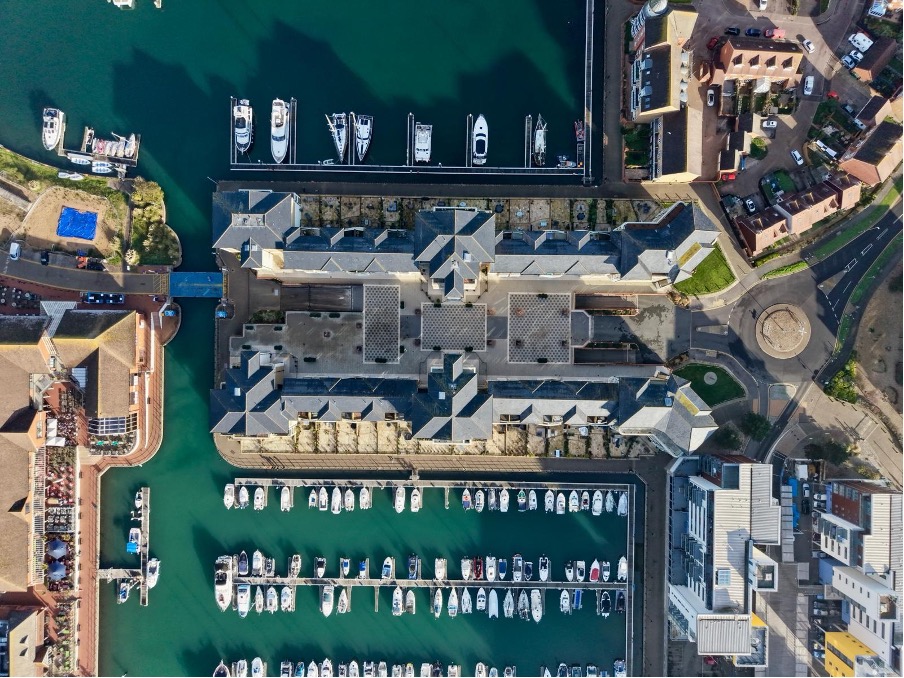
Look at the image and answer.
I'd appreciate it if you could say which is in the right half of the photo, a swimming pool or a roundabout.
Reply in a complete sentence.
What appears in the right half of the photo is a roundabout.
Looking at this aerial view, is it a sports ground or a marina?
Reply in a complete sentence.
It's a marina.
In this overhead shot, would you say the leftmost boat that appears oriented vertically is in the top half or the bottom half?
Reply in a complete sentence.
You can find the leftmost boat that appears oriented vertically in the top half.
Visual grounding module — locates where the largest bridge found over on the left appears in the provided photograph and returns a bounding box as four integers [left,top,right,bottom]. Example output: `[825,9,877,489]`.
[168,272,225,297]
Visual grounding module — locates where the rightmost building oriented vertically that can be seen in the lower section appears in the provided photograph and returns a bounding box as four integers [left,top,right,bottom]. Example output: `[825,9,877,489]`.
[817,477,904,678]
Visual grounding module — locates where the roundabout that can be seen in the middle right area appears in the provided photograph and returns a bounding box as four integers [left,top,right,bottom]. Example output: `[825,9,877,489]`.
[755,303,811,358]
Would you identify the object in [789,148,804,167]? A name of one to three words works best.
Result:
car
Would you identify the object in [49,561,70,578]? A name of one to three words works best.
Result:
umbrella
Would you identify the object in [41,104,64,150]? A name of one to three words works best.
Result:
boat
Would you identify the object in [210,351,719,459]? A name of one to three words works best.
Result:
building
